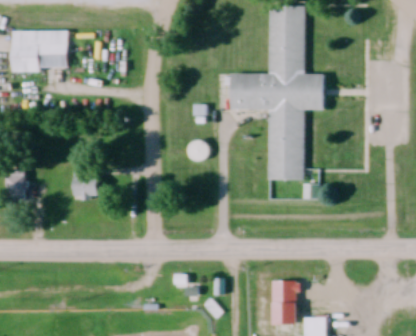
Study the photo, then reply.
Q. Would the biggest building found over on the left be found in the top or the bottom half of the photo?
top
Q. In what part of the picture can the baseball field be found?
bottom left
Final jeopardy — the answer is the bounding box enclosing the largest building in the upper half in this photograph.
[230,4,324,180]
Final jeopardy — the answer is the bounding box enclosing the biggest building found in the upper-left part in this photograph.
[10,30,68,73]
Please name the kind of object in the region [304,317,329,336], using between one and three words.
shed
